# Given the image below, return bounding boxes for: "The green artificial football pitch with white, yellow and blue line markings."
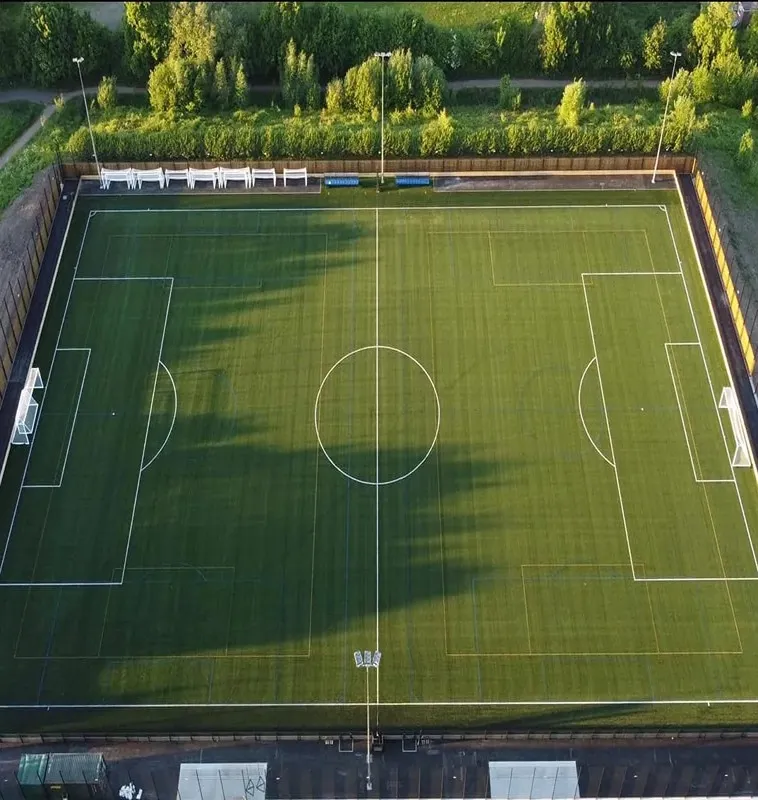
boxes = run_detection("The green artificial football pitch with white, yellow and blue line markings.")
[0,176,758,729]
